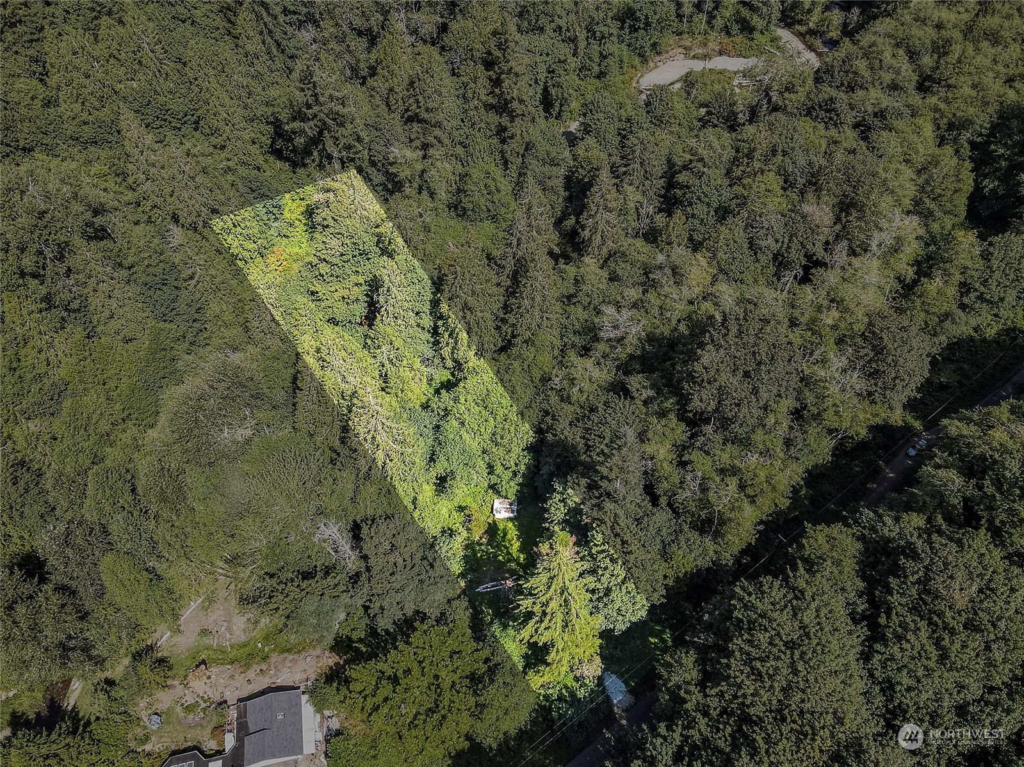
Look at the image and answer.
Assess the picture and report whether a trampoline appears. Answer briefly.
No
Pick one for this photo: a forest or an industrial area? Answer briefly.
forest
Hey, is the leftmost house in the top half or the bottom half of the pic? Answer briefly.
bottom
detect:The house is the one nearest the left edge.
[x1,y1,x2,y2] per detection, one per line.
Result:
[161,691,333,767]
